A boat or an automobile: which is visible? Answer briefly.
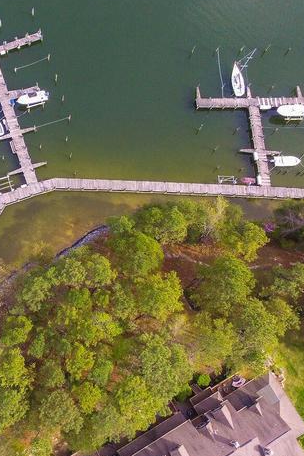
boat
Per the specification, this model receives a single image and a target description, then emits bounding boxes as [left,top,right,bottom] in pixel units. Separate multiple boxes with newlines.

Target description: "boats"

[230,44,259,98]
[269,157,300,167]
[16,90,51,104]
[239,178,254,184]
[274,107,304,119]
